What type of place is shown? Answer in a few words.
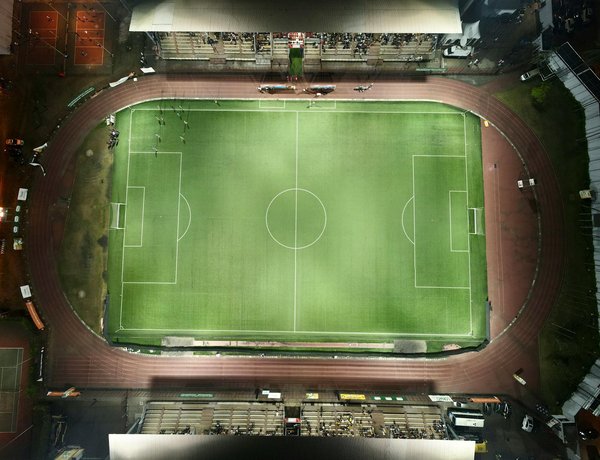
sports ground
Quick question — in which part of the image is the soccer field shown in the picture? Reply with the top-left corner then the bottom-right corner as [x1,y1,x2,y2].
[106,100,488,355]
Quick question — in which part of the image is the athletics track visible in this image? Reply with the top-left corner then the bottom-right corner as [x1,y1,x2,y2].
[27,74,566,396]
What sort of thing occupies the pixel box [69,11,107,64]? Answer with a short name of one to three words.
sports court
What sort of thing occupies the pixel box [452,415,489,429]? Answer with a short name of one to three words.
vehicle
